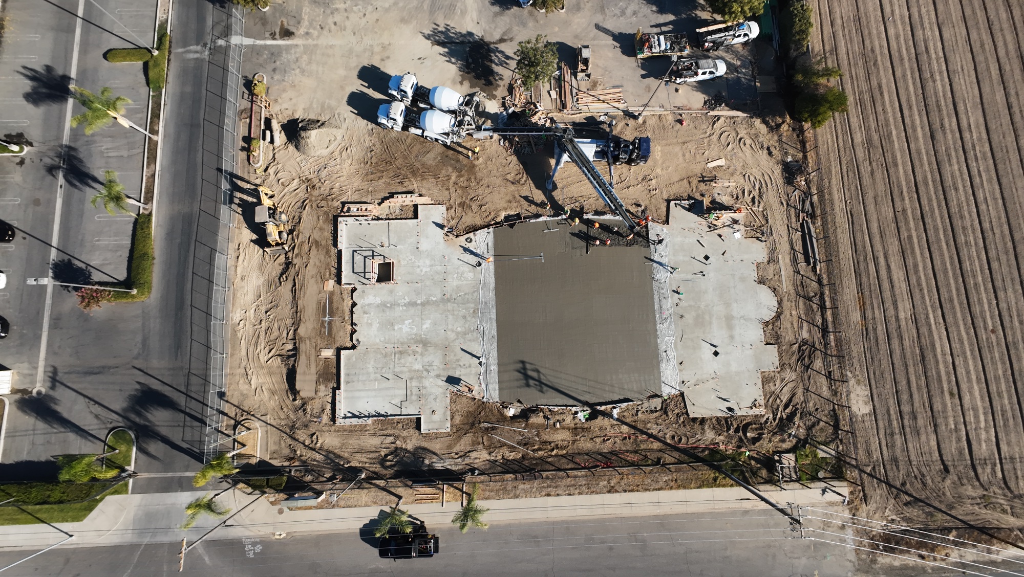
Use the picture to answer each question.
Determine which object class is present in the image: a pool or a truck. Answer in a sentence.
Visible in the photo is a truck.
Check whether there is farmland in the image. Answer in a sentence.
Yes, there is farmland in the image.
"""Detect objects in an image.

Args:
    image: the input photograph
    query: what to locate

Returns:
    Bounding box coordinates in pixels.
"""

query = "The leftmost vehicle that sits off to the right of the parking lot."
[256,188,288,259]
